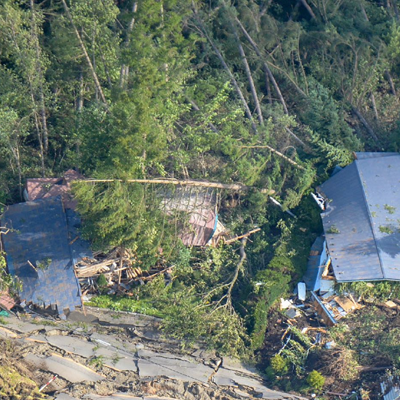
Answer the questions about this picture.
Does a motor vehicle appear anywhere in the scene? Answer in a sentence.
No, there isn't any motor vehicle down there.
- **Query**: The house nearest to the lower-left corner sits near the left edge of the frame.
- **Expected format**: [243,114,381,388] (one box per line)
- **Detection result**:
[1,194,92,322]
